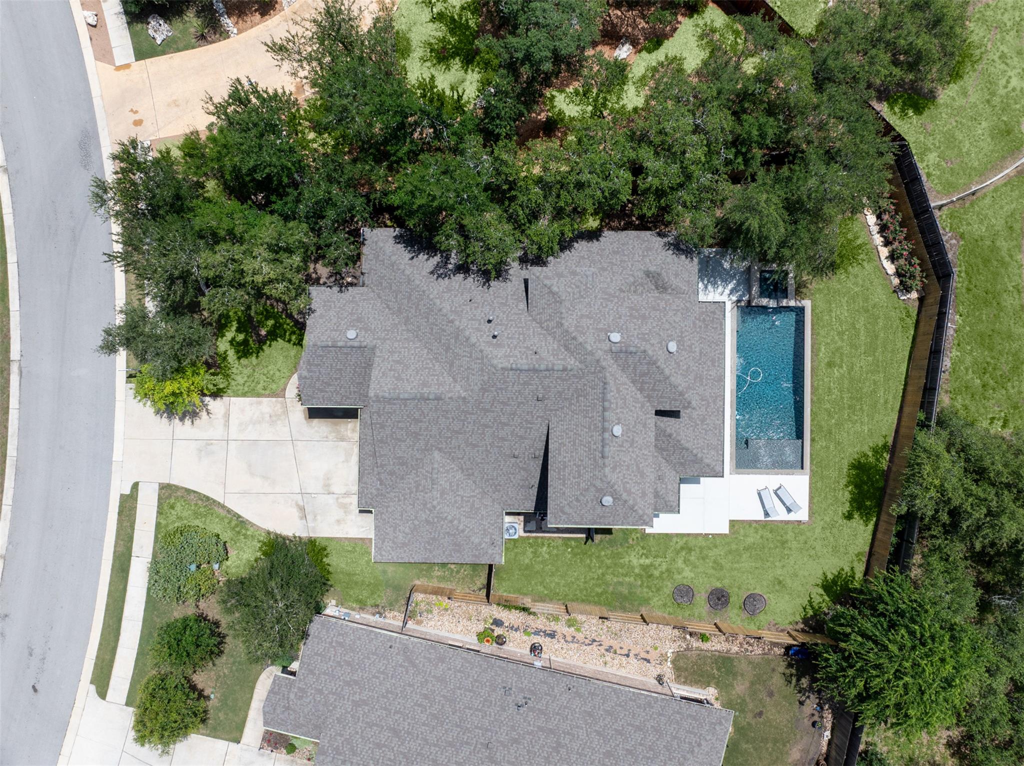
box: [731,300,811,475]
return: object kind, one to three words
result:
swimming pool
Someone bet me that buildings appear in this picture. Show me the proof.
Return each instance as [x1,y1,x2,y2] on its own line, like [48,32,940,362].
[263,615,734,766]
[298,226,725,565]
